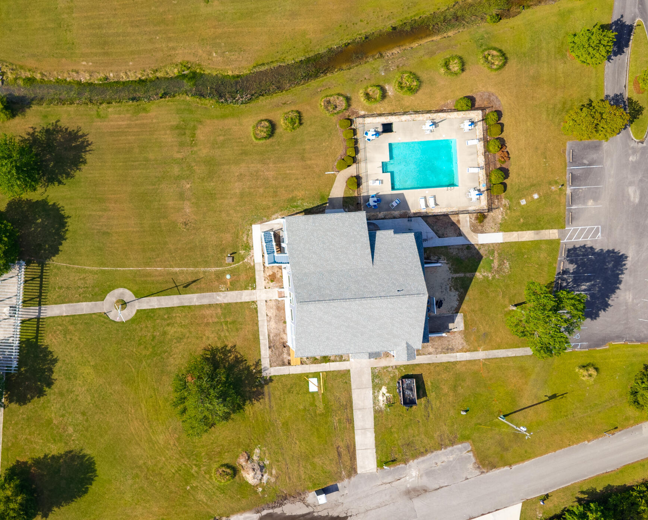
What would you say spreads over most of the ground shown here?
grass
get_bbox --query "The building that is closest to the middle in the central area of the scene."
[283,211,431,361]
